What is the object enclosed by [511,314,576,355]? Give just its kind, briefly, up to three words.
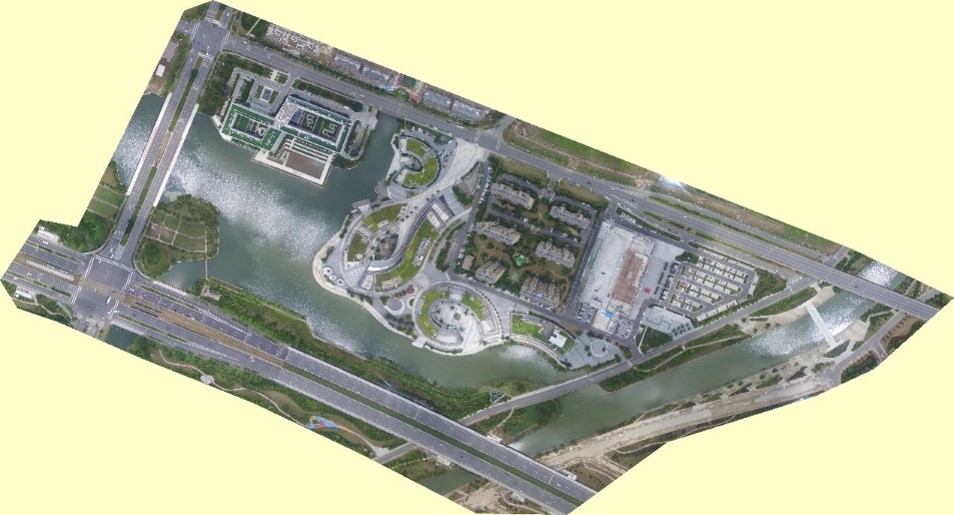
building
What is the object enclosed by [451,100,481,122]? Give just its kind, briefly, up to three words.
shed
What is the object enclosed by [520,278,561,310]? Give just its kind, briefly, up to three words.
building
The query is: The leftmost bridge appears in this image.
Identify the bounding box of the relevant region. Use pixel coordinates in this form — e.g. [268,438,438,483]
[127,90,198,203]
